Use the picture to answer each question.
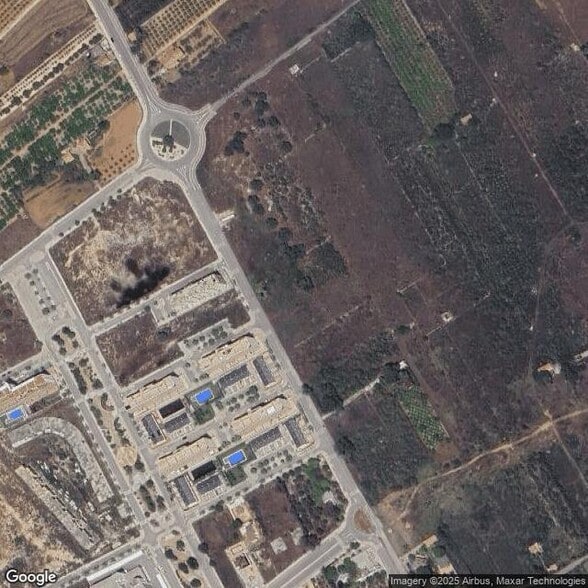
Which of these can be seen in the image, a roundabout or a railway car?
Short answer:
roundabout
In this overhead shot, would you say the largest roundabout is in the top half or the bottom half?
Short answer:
top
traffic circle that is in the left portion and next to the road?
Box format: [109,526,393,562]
[123,86,211,193]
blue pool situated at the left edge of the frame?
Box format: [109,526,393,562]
[4,407,26,422]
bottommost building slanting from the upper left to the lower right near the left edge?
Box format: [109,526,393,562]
[15,465,99,549]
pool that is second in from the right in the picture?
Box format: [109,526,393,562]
[194,388,215,405]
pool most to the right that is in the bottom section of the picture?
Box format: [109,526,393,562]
[224,448,247,467]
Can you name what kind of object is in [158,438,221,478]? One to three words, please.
building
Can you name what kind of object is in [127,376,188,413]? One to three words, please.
building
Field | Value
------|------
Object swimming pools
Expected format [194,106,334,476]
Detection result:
[4,407,26,422]
[224,448,247,467]
[194,388,215,405]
